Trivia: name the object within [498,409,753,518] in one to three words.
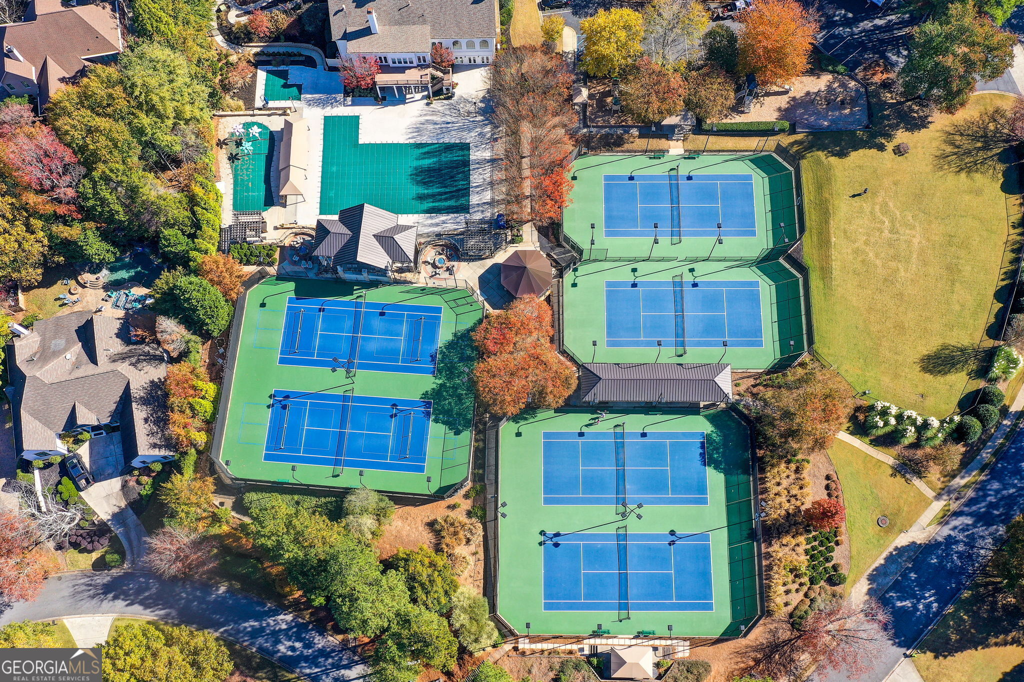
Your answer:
tennis court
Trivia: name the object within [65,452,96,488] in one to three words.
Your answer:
truck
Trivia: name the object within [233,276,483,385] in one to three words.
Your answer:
tennis court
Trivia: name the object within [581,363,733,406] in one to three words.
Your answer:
building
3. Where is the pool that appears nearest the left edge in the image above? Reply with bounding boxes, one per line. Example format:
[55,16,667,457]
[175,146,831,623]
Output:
[105,251,161,291]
